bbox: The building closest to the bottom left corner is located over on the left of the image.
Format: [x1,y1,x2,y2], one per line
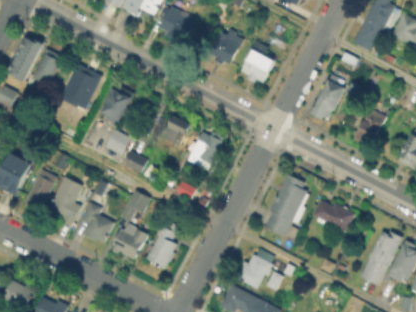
[6,280,35,302]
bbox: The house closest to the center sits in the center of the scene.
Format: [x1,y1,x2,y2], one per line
[189,133,222,171]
